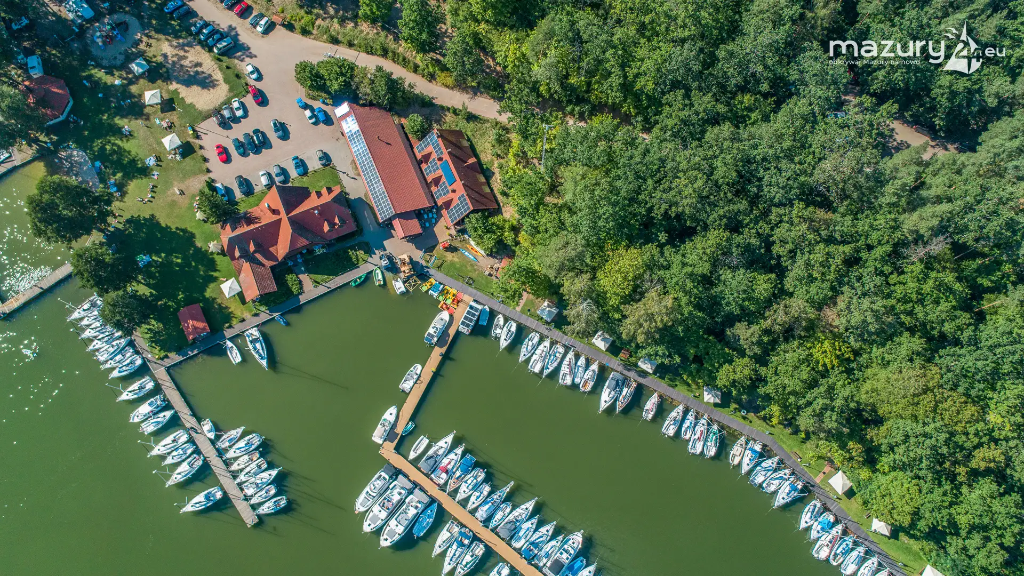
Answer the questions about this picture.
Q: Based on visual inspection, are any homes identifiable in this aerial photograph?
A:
Yes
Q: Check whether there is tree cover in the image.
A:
Yes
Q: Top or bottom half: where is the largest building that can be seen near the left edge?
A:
top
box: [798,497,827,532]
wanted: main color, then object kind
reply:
white boat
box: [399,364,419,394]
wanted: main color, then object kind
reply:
white boat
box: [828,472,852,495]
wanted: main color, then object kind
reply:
white gazebo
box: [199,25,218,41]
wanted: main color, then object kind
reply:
blue car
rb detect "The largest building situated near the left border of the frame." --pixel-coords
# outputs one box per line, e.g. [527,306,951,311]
[25,80,79,126]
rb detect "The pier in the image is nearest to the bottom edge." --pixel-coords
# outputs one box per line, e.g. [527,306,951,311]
[380,450,544,576]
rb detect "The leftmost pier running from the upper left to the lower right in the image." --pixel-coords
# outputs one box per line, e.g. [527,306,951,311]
[154,369,259,527]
